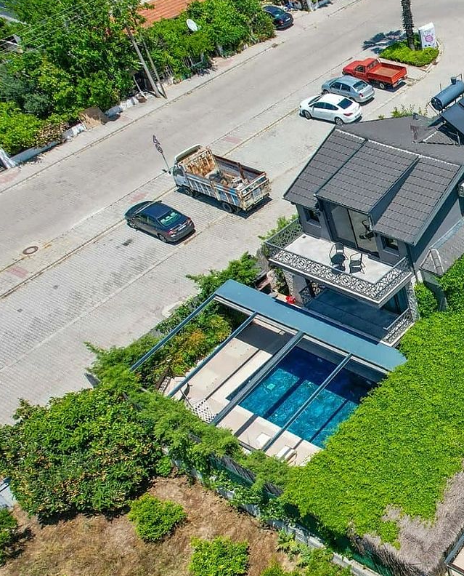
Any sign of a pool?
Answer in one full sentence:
Yes, a pool is visible in the scene.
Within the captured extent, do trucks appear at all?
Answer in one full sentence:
Yes, a truck can be made out from above.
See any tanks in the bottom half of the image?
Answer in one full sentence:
No, no tank is visible in the bottom half of the image.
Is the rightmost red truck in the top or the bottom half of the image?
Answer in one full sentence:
It is in the top half that the rightmost red truck appears.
